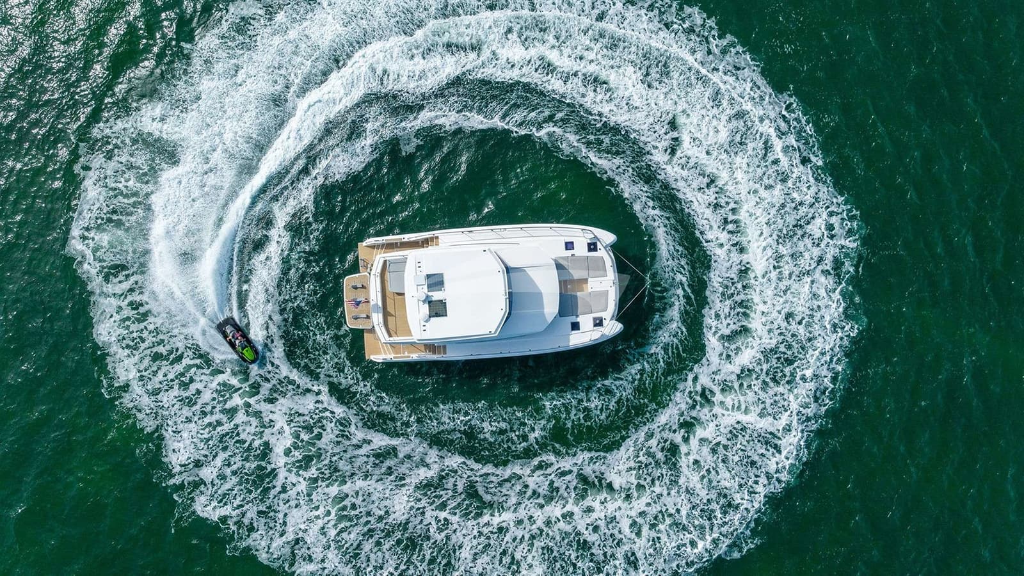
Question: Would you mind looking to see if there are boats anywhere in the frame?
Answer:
Yes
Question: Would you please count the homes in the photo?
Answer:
none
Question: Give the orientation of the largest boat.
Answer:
horizontally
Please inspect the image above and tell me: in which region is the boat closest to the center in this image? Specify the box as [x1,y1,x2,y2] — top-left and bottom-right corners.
[344,223,623,363]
